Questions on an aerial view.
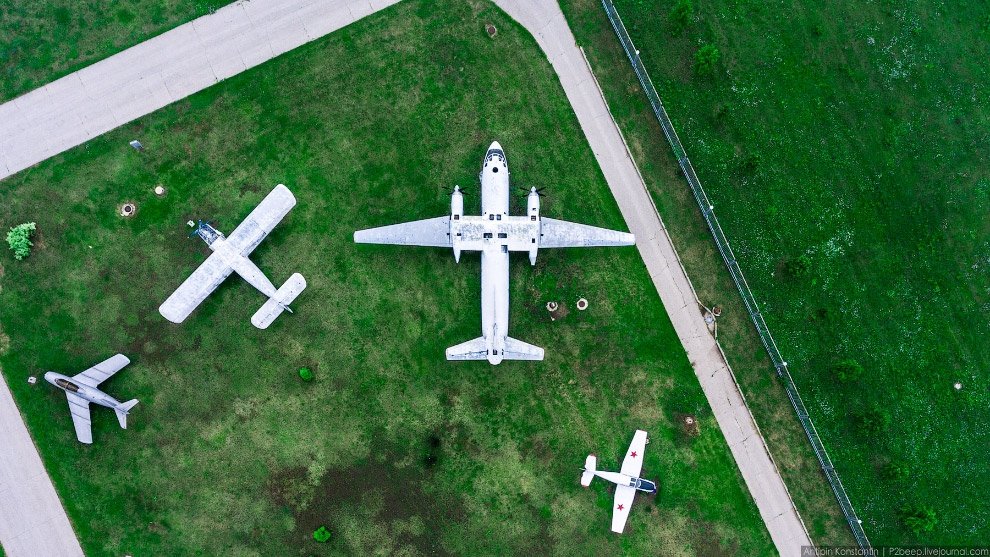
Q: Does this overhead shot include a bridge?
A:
No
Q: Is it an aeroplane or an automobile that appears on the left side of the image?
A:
aeroplane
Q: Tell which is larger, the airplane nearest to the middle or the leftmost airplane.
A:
the airplane nearest to the middle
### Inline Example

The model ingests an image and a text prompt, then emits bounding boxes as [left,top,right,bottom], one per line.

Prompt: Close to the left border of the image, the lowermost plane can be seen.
[44,354,137,443]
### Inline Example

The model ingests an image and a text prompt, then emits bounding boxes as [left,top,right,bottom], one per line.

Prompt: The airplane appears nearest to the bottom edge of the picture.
[579,431,658,533]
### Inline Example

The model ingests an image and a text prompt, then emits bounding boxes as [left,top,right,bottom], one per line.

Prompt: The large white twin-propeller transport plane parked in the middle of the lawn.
[356,141,634,366]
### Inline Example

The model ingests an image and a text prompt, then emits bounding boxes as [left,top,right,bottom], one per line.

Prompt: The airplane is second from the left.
[158,186,302,324]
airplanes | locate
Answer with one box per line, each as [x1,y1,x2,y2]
[579,431,658,533]
[158,186,302,324]
[356,141,634,366]
[44,354,137,443]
